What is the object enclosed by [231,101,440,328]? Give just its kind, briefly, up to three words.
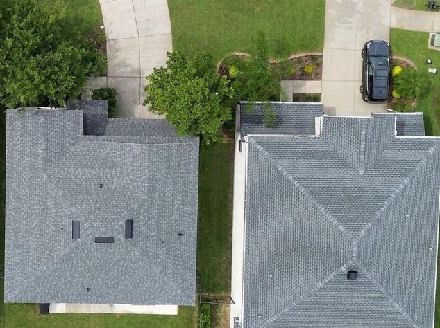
house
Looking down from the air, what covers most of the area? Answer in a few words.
buildings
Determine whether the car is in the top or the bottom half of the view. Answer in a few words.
top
